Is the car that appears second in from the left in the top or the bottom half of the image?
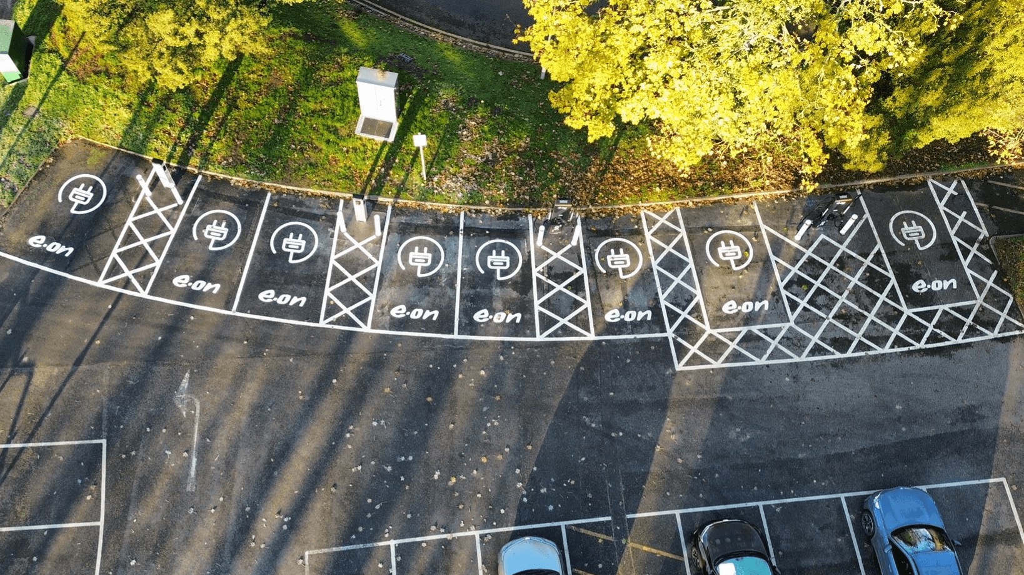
bottom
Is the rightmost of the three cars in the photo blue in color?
Yes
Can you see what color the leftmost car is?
blue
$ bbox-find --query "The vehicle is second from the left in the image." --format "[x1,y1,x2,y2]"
[697,519,775,575]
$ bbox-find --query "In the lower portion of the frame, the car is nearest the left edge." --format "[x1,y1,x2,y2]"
[499,536,566,575]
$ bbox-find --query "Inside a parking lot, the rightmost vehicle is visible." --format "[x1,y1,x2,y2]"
[870,489,968,575]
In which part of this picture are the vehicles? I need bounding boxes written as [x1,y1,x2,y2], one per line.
[697,519,775,575]
[870,489,968,575]
[499,536,566,575]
